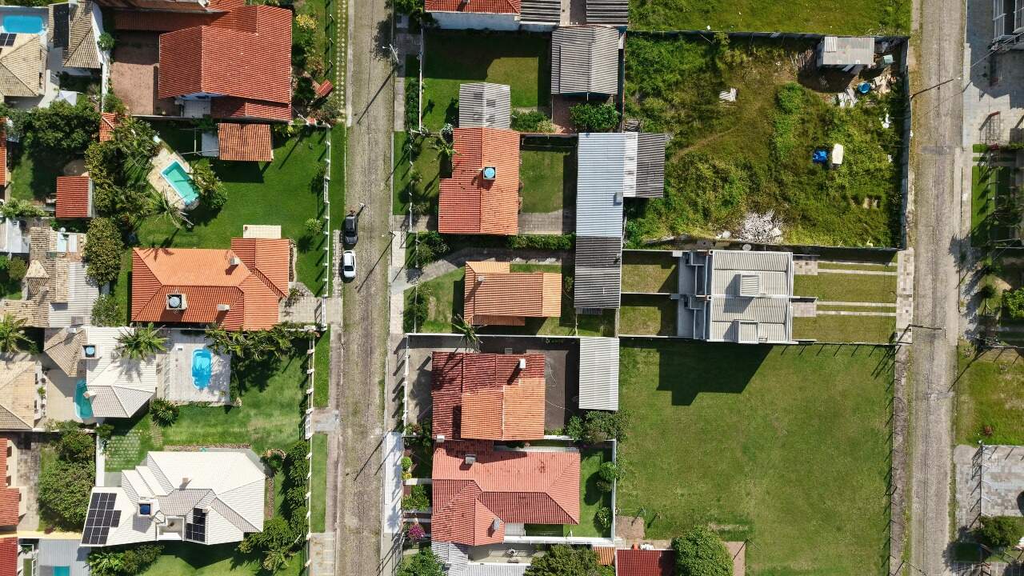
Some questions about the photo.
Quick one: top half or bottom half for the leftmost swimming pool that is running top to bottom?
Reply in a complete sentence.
You can find the leftmost swimming pool that is running top to bottom in the bottom half.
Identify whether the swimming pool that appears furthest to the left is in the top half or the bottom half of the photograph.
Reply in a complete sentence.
The swimming pool that appears furthest to the left is in the top half of the image.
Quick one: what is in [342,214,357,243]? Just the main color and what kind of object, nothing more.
black car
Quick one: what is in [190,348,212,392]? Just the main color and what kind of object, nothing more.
blue swimming pool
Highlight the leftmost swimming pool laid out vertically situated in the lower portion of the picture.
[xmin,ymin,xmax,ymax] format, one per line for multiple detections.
[73,378,93,420]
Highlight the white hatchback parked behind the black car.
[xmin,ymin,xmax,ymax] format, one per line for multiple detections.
[340,250,356,278]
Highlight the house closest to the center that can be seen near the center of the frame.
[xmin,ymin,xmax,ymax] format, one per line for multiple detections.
[464,261,562,326]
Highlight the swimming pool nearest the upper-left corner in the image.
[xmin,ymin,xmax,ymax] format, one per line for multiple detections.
[0,12,44,35]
